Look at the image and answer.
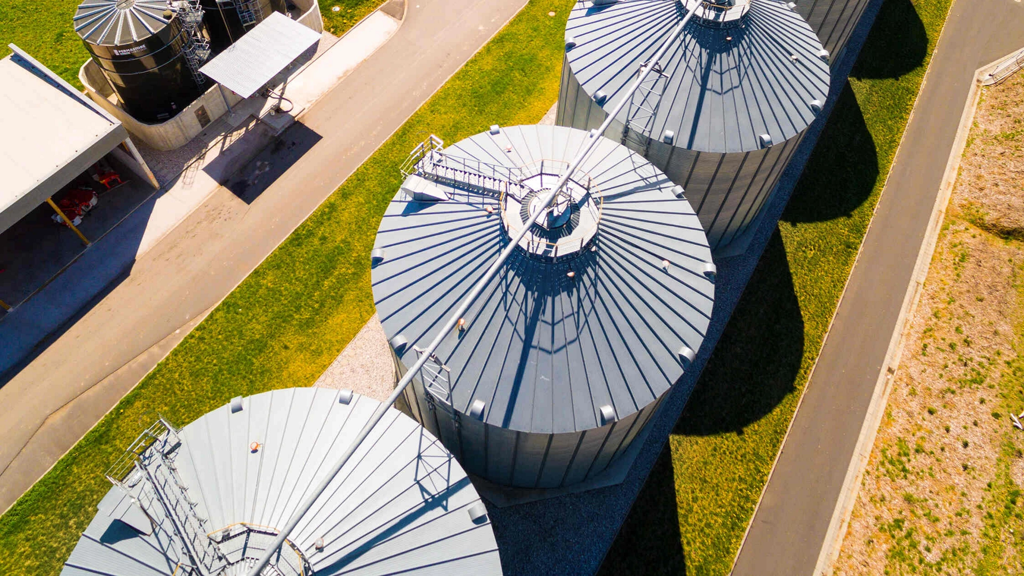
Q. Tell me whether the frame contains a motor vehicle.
No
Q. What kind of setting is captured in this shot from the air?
industrial area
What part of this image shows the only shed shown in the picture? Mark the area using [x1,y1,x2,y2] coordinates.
[0,41,163,319]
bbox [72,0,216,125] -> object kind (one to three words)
storage tank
